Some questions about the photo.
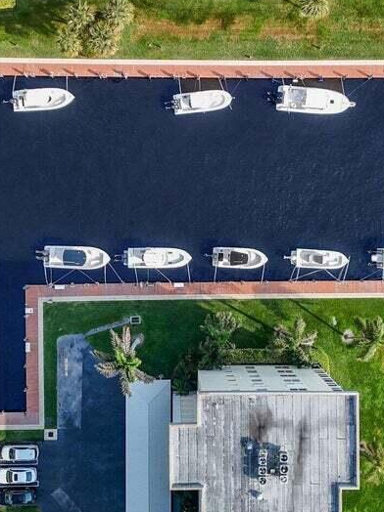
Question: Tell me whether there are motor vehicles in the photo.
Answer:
Yes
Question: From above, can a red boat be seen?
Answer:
No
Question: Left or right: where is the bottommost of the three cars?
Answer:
left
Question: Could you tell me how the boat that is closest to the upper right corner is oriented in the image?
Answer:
horizontally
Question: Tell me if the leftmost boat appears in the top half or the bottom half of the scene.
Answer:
top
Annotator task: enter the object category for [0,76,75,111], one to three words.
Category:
boat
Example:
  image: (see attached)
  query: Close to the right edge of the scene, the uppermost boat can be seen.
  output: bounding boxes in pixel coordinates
[263,77,368,113]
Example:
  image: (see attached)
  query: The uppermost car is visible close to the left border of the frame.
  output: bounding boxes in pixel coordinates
[0,444,40,462]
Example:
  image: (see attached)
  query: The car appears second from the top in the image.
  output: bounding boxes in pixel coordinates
[0,466,38,485]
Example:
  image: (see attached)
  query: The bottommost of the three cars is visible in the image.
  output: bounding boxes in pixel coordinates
[0,487,37,507]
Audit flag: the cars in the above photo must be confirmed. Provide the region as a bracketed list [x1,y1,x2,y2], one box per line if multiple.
[0,466,38,485]
[0,487,37,507]
[0,444,40,462]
